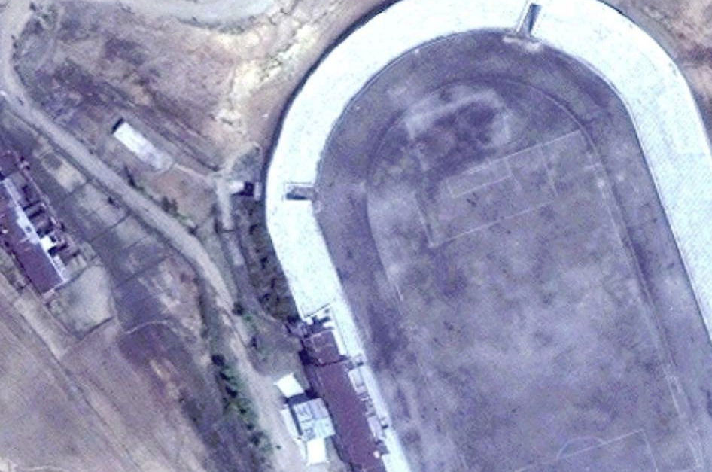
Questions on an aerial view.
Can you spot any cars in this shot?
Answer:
No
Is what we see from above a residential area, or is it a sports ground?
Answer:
sports ground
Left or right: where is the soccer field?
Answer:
right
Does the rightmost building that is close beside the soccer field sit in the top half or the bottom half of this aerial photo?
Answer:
bottom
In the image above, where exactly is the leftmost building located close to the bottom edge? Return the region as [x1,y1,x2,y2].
[273,372,335,467]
